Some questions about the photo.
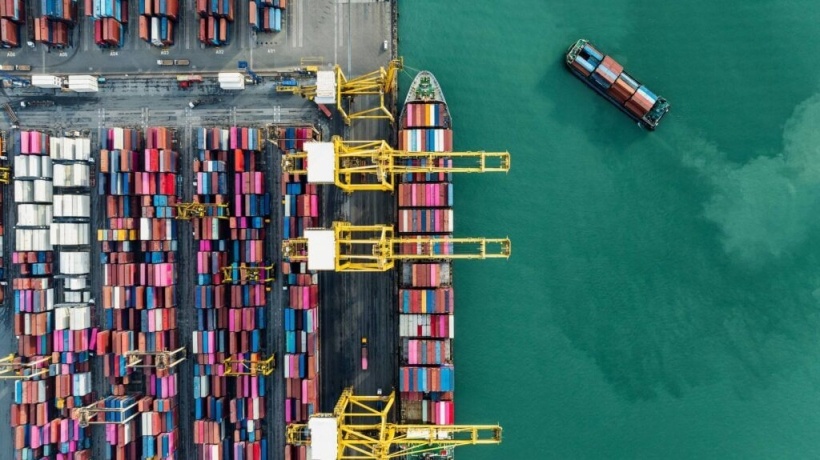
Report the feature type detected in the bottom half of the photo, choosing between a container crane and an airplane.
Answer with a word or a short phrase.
container crane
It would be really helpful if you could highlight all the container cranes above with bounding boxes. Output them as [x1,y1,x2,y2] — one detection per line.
[0,167,22,186]
[179,203,236,220]
[266,123,321,149]
[283,136,511,197]
[278,46,401,133]
[226,351,279,376]
[223,262,279,282]
[283,221,511,272]
[0,355,44,380]
[126,344,188,368]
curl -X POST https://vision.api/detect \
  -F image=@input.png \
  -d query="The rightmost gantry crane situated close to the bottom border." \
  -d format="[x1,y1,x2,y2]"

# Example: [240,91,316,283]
[287,385,502,460]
